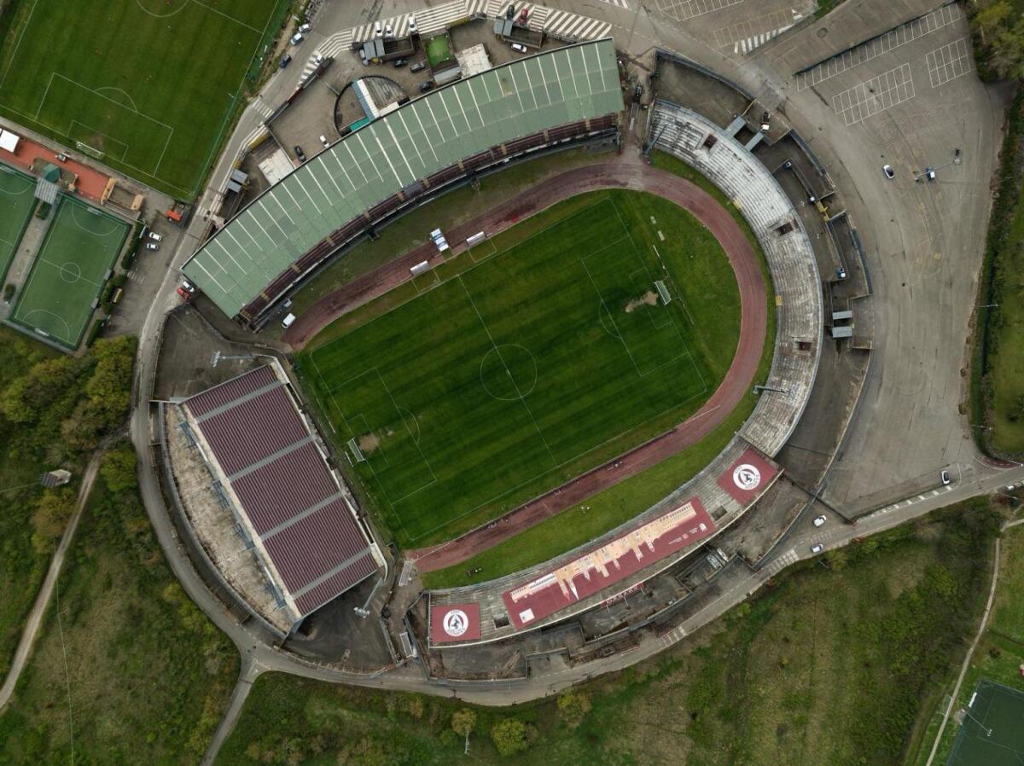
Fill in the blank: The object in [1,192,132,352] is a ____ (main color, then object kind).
green soccer field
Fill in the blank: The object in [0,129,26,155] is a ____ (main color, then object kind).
white tent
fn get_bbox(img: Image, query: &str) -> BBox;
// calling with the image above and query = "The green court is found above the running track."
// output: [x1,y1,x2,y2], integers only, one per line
[428,35,451,65]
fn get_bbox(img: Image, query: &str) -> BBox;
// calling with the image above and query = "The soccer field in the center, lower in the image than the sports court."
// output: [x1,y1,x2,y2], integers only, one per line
[304,193,713,547]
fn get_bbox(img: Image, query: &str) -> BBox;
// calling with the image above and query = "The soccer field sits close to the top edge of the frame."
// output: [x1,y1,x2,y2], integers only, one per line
[0,0,287,203]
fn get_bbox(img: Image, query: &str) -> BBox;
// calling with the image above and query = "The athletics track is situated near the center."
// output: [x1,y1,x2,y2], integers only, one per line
[281,166,763,572]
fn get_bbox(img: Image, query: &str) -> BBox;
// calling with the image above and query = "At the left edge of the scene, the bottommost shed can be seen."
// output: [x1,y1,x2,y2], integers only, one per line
[42,469,76,489]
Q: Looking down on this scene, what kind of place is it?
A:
sports ground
